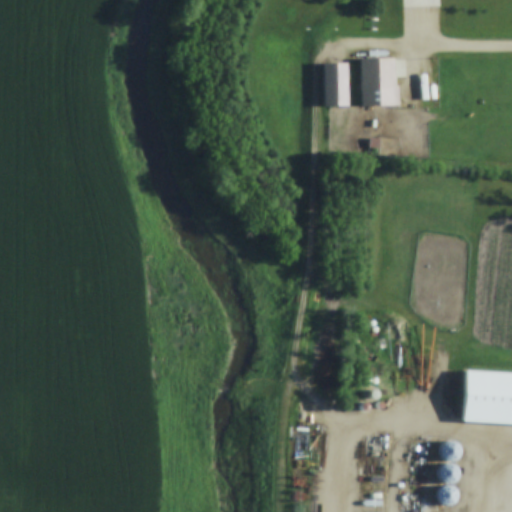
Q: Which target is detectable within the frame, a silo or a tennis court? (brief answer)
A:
silo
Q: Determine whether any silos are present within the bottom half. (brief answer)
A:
Yes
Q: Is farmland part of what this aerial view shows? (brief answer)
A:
Yes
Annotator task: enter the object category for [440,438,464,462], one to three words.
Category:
silo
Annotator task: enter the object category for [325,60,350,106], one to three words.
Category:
barn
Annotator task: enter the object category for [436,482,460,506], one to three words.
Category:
silo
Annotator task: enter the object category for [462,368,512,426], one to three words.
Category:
shed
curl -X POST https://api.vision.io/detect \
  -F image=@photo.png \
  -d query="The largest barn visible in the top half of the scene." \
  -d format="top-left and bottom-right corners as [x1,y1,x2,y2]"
[361,55,408,107]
